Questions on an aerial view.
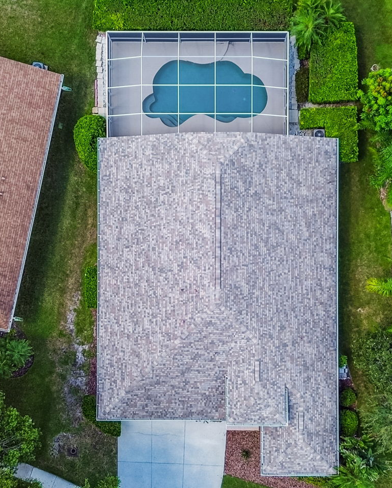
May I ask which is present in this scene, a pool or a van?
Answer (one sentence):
Visible in the photo is a pool.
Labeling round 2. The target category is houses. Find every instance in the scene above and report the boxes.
[0,56,66,333]
[95,130,341,478]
